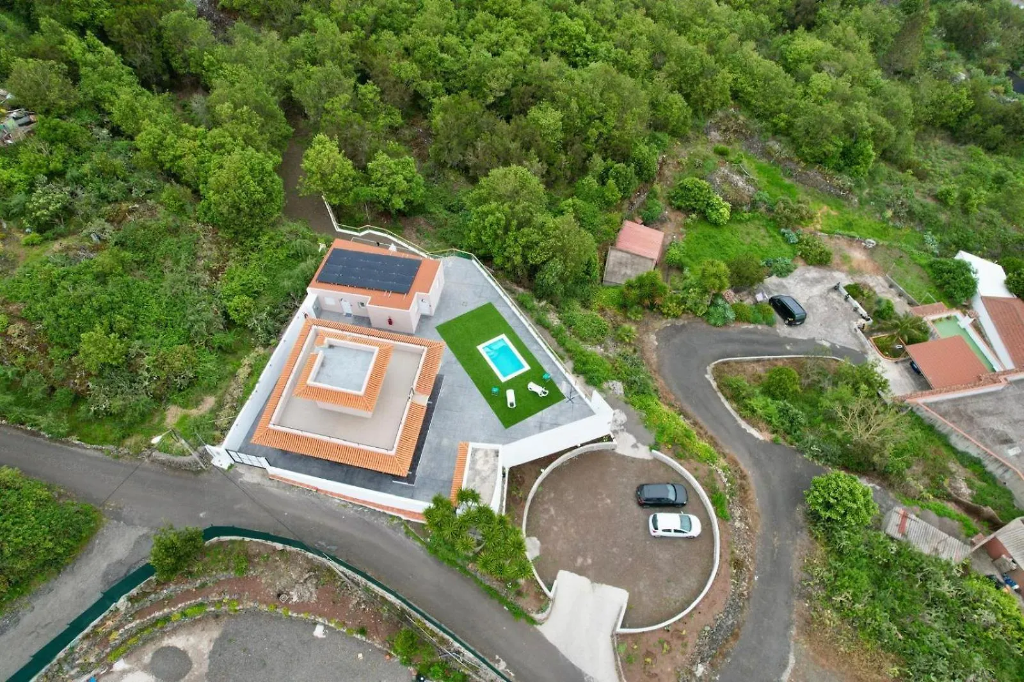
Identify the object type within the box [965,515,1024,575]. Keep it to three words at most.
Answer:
building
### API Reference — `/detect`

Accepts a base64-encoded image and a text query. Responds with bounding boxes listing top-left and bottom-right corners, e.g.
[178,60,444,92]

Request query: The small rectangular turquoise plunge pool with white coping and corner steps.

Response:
[477,333,530,382]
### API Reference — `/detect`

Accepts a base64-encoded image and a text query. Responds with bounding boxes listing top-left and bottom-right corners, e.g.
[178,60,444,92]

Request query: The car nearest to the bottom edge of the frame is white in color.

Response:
[647,513,701,541]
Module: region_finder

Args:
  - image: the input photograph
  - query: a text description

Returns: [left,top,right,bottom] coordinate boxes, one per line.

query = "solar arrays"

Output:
[318,247,420,298]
